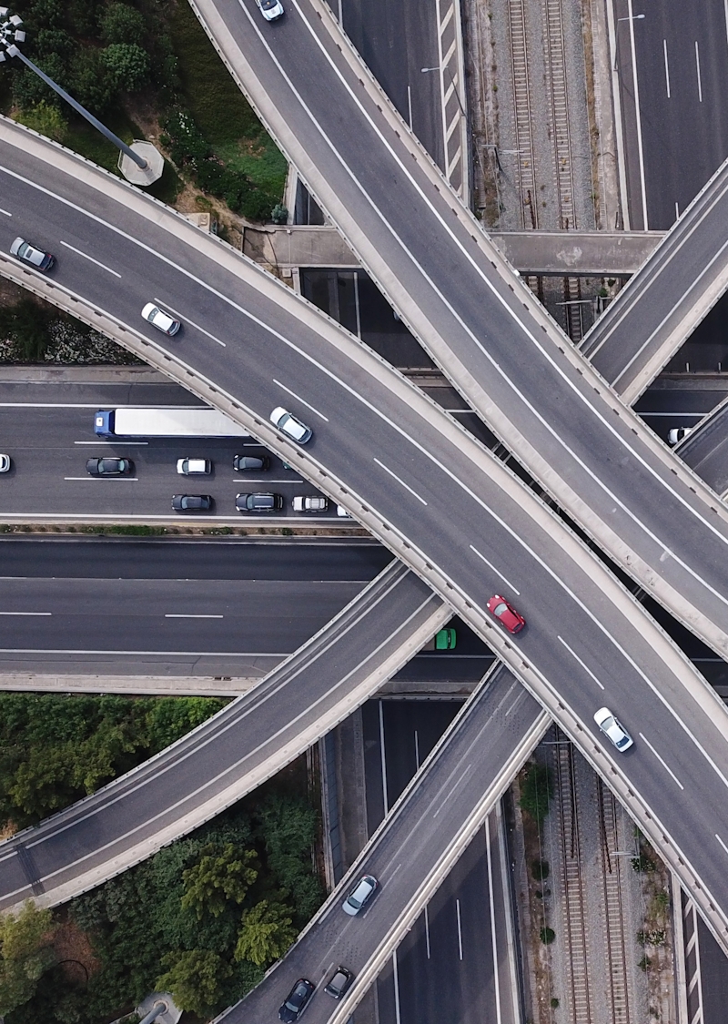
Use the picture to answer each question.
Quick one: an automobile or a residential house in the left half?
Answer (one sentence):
The one visible in the left half is an automobile.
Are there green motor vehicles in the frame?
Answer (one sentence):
Yes, the photo shows a green motor vehicle.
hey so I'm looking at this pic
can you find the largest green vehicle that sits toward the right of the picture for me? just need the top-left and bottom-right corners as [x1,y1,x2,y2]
[422,626,459,652]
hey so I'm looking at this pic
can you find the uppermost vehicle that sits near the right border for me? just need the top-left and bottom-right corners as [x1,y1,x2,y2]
[668,425,695,445]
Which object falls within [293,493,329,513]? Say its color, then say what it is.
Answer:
white car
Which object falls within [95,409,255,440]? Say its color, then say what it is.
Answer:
white truck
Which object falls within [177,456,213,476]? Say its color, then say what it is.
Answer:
white car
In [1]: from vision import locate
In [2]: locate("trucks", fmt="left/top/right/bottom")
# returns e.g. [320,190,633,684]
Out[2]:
[95,409,255,440]
[422,626,459,652]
